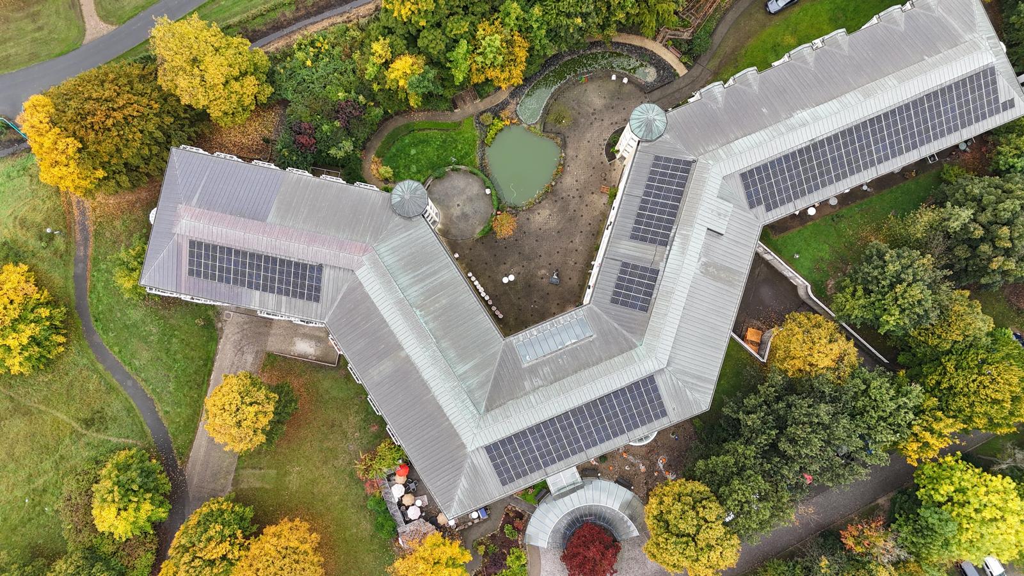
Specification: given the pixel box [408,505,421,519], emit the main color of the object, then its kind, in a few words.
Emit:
white umbrella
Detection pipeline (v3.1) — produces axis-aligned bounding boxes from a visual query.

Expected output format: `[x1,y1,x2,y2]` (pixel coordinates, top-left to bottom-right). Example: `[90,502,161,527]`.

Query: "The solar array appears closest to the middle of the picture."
[611,262,659,312]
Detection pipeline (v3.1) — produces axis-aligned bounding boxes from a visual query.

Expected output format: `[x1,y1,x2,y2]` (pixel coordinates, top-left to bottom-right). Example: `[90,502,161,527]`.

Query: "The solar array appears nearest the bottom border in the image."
[486,375,667,486]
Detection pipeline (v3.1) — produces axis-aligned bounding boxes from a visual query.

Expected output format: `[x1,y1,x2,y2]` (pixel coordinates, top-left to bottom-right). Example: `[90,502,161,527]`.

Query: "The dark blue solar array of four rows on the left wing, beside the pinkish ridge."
[188,240,322,302]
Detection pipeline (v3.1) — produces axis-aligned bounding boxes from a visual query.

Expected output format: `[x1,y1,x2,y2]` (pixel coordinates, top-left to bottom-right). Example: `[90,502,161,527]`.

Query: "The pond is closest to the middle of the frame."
[488,124,561,205]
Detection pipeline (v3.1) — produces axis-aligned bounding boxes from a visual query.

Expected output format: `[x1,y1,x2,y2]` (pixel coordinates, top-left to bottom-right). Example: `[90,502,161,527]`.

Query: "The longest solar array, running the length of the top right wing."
[740,66,1015,214]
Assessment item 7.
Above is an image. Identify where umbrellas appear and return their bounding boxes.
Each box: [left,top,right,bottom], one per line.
[408,505,421,519]
[392,482,406,497]
[436,512,448,524]
[402,492,416,505]
[395,474,407,483]
[395,463,410,476]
